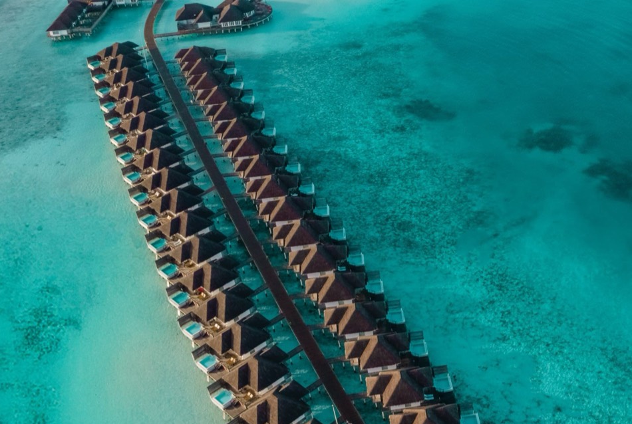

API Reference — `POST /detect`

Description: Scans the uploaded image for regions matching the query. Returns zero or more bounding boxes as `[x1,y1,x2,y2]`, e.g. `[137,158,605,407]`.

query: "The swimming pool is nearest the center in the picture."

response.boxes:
[311,206,327,218]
